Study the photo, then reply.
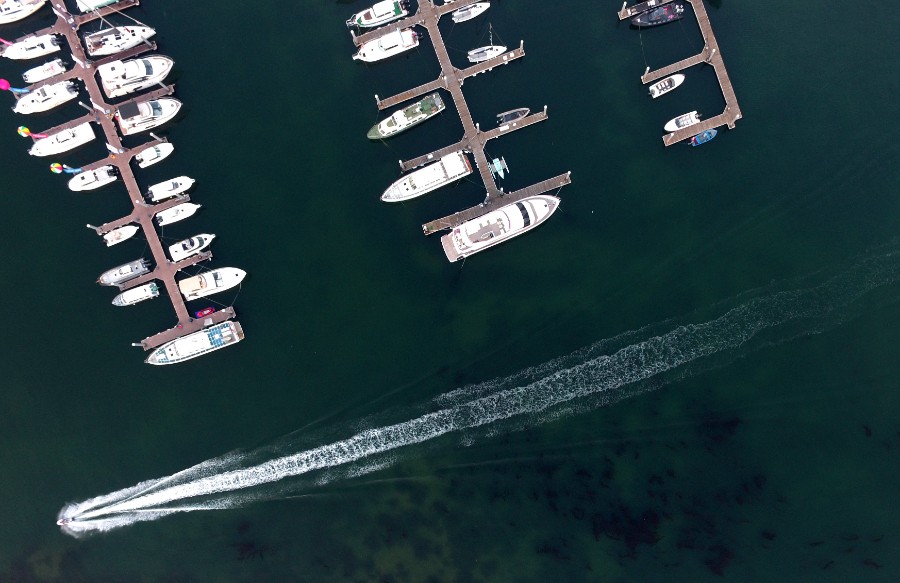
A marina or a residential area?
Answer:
marina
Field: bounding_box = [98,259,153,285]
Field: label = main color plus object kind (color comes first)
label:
white boat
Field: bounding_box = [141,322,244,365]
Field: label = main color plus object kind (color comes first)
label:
white boat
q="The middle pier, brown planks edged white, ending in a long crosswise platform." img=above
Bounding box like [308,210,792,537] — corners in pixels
[353,0,573,235]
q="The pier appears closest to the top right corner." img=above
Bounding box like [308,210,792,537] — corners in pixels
[618,0,744,146]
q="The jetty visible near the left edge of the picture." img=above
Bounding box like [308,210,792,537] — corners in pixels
[0,0,236,350]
